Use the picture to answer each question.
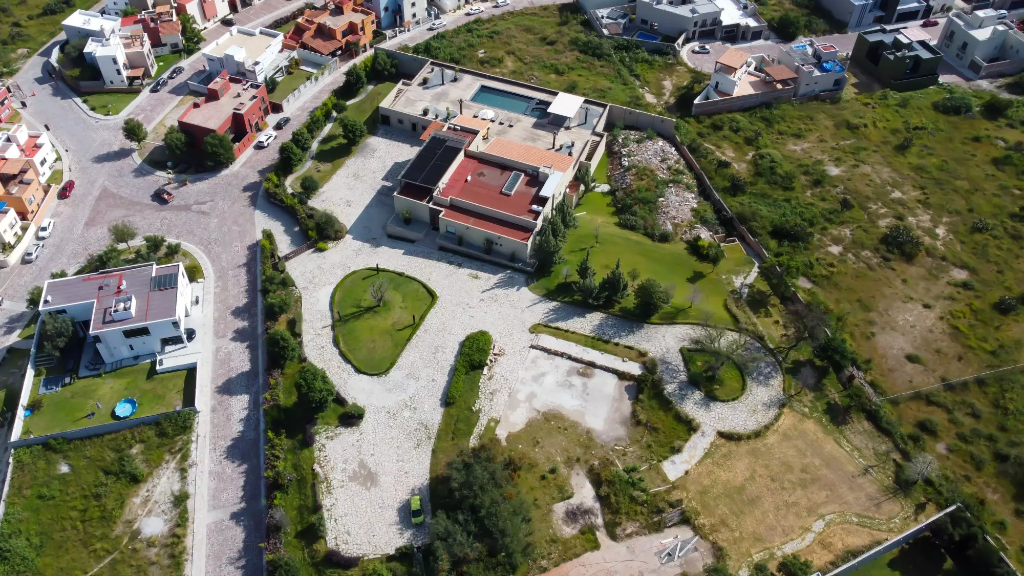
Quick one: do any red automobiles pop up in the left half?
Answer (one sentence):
Yes, the scene does show a red automobile in the left half.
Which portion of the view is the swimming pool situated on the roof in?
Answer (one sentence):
You can find the swimming pool situated on the roof in the top area of the picture.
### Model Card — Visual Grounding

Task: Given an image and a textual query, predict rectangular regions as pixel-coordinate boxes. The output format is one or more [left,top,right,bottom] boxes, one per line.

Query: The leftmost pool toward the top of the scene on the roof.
[466,83,554,122]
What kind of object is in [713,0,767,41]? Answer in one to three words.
house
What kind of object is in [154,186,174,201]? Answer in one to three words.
vehicle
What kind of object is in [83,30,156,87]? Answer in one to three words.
house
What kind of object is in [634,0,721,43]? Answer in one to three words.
building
